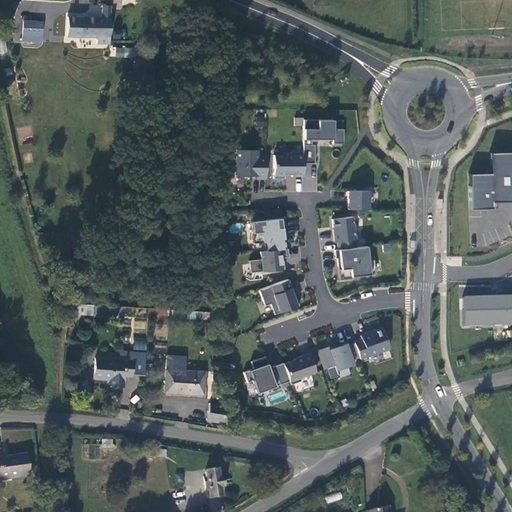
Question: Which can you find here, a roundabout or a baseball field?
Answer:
roundabout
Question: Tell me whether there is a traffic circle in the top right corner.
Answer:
Yes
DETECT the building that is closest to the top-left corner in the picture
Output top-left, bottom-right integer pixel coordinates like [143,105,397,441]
[22,20,46,43]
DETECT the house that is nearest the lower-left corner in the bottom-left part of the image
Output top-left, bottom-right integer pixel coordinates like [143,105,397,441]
[0,448,34,482]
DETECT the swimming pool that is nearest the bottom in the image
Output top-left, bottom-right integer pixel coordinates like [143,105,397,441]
[267,390,286,404]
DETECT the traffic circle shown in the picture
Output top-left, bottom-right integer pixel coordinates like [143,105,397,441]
[381,64,476,158]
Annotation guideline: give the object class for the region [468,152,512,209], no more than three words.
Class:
building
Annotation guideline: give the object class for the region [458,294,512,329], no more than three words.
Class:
building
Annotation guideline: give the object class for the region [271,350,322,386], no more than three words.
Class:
house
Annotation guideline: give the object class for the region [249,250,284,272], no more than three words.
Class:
house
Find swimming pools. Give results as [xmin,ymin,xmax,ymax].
[267,390,286,404]
[230,222,244,234]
